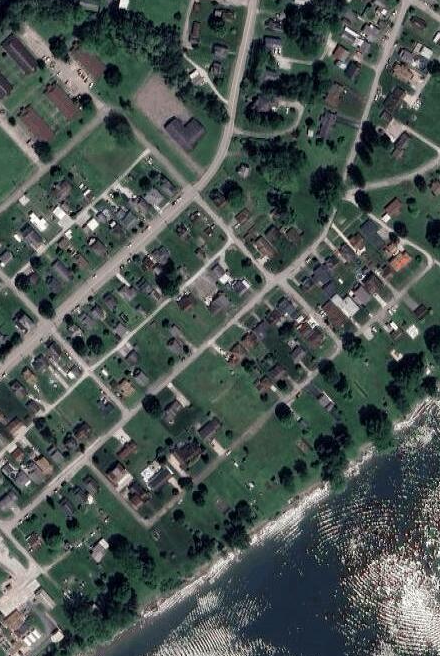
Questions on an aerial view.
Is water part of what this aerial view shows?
Yes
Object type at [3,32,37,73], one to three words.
building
